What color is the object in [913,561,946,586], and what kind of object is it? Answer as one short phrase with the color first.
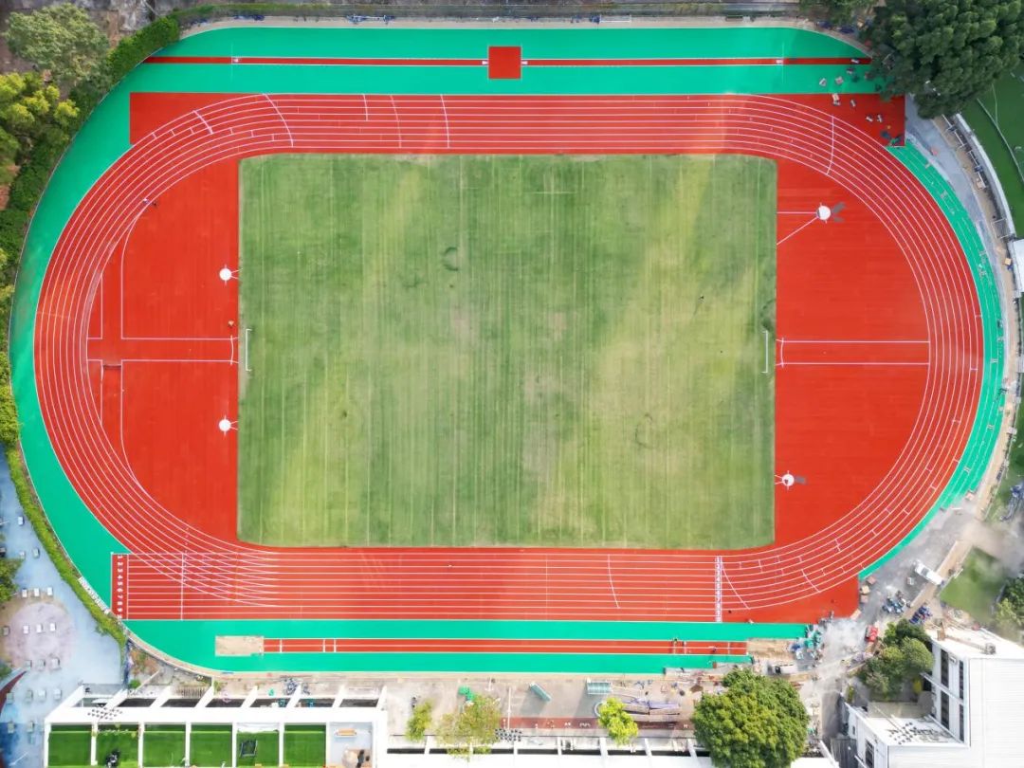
white vehicle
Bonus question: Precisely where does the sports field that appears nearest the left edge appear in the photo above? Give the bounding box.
[238,155,777,547]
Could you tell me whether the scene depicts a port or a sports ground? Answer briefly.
sports ground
